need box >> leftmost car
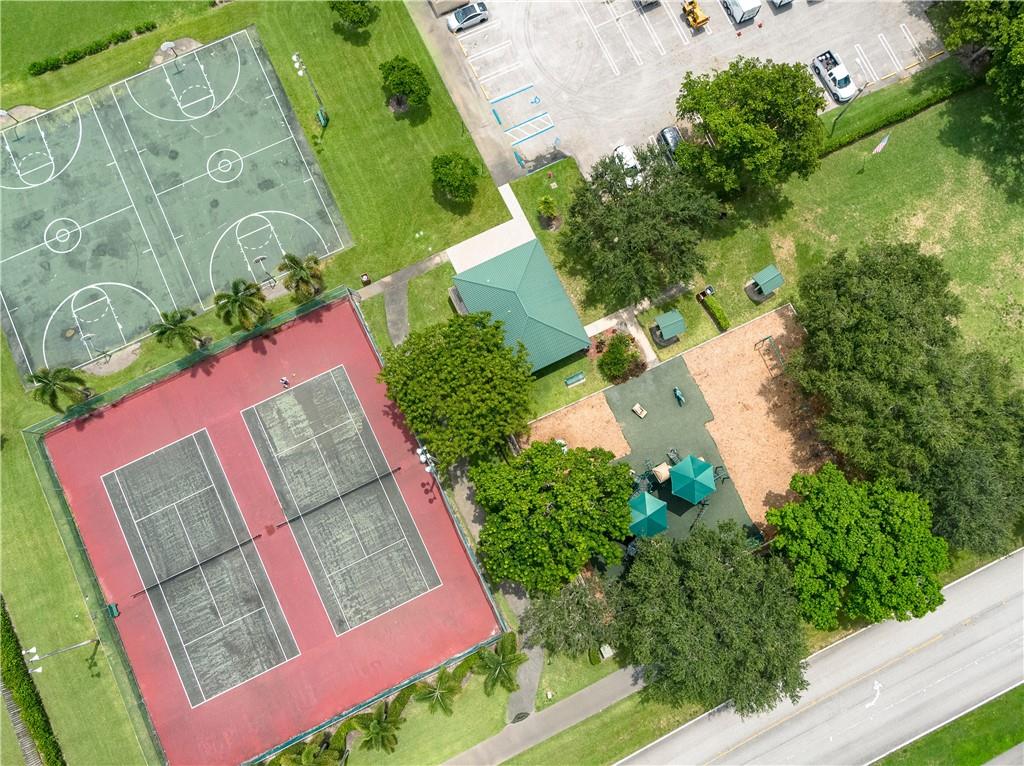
[447,1,489,32]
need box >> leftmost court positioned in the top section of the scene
[0,89,190,392]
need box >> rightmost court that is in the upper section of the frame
[97,23,355,318]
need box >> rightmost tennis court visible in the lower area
[191,296,500,716]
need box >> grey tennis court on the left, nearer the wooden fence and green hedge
[43,366,335,766]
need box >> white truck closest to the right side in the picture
[814,49,857,102]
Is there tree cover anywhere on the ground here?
Yes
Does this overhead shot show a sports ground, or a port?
sports ground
